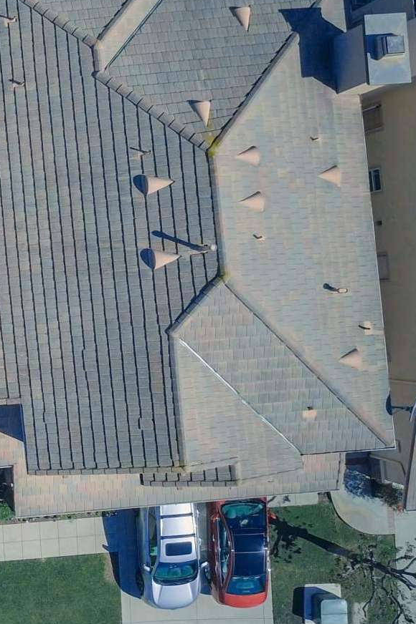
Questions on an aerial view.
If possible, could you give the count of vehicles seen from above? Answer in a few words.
2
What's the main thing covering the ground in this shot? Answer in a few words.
buildings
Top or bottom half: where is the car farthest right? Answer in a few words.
bottom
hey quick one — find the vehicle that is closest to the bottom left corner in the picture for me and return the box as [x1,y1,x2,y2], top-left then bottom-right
[138,503,207,611]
